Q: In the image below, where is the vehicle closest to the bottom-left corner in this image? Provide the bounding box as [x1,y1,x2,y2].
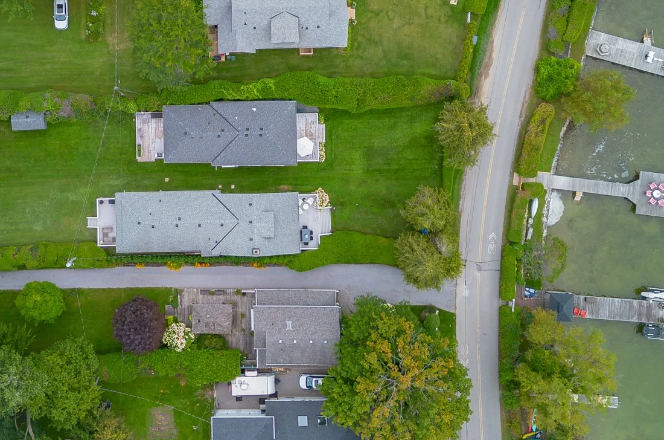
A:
[231,374,281,400]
